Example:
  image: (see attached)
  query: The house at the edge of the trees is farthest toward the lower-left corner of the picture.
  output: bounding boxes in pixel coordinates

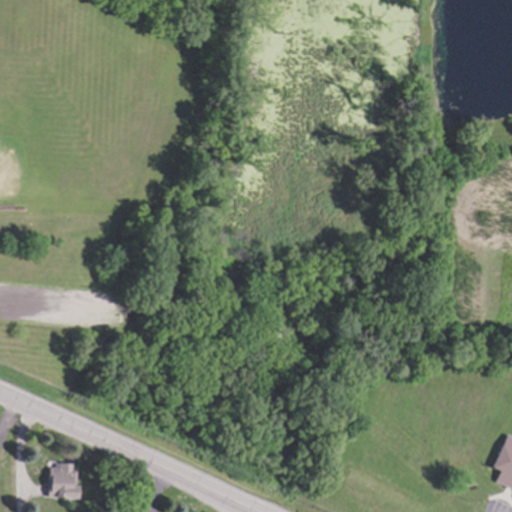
[47,462,82,501]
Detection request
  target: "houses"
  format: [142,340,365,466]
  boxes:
[47,462,82,501]
[494,435,512,492]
